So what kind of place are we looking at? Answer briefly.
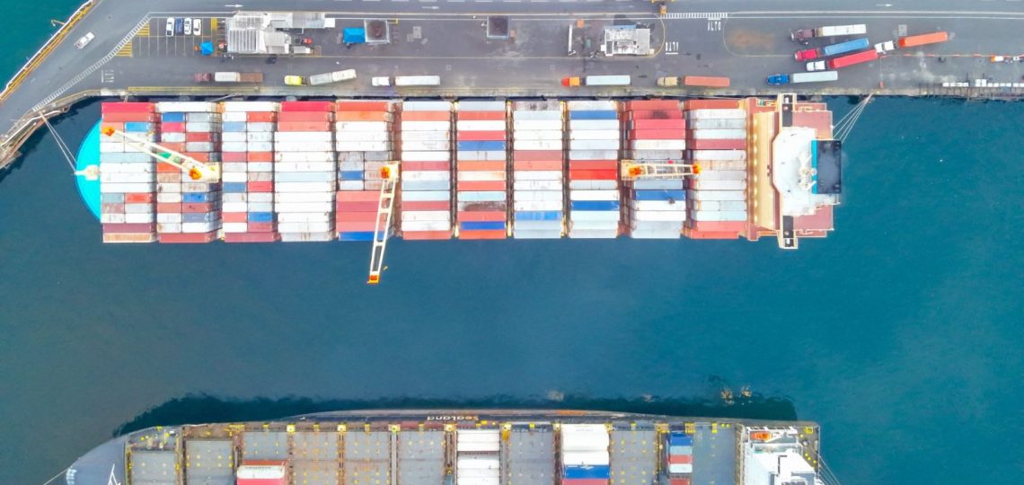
port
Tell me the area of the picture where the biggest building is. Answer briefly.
top left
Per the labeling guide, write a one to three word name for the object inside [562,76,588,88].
vehicle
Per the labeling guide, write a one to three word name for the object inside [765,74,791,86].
vehicle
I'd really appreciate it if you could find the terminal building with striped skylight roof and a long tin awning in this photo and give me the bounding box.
[226,11,327,55]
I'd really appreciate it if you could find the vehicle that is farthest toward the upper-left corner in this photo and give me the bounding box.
[76,33,95,49]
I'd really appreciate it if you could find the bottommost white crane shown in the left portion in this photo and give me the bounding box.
[368,162,402,284]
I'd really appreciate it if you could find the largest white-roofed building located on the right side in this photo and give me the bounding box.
[604,25,650,57]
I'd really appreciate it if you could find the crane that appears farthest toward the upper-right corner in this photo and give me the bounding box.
[617,160,698,182]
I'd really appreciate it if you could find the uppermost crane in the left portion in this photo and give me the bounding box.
[104,126,232,183]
